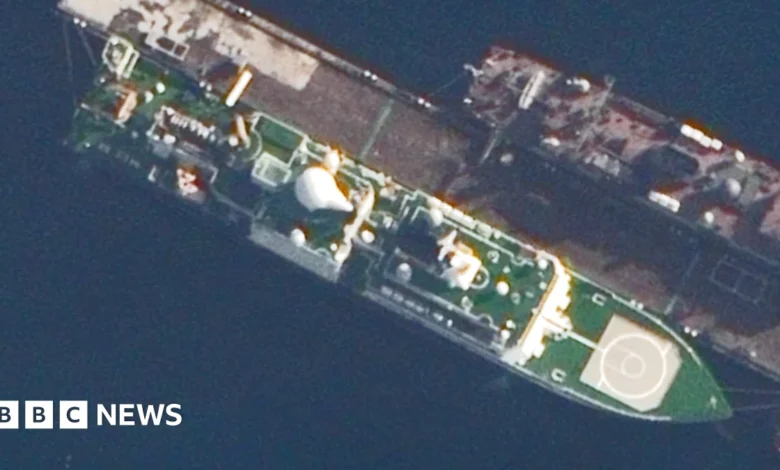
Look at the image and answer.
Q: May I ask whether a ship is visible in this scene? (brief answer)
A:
Yes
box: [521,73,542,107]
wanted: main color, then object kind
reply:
white boat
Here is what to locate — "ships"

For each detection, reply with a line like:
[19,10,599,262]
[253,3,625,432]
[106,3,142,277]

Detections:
[66,37,731,420]
[463,45,780,266]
